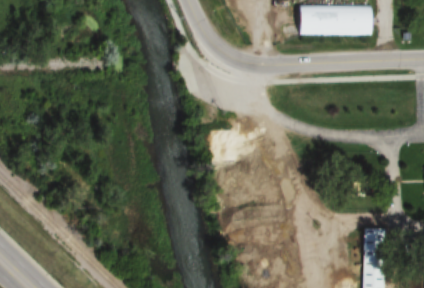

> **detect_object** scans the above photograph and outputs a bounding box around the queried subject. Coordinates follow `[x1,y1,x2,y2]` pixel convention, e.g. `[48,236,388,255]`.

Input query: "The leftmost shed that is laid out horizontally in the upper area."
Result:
[300,6,373,36]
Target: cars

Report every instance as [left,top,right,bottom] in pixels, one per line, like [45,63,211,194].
[262,269,269,278]
[300,57,310,62]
